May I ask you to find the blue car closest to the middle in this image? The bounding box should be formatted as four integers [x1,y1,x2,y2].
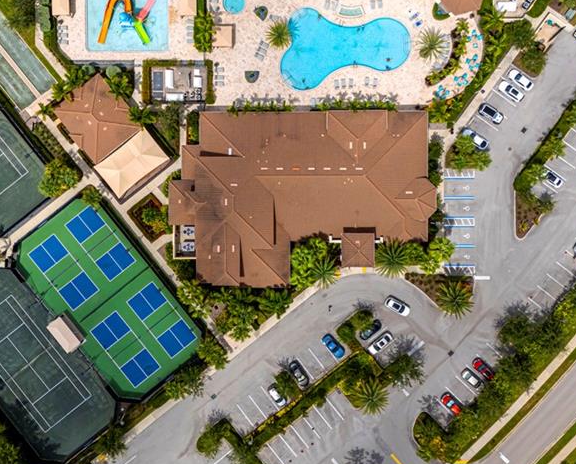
[322,333,345,358]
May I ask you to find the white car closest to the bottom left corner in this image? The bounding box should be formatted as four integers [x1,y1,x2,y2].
[266,383,288,408]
